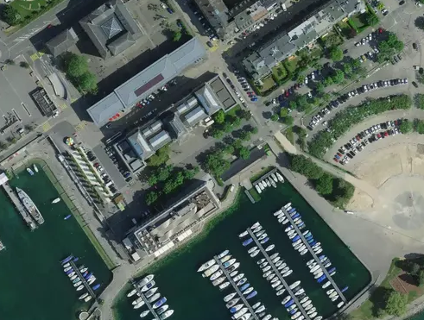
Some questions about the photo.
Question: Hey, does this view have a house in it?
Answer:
Yes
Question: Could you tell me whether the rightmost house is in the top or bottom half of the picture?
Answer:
top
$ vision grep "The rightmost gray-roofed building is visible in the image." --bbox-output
[318,0,364,28]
